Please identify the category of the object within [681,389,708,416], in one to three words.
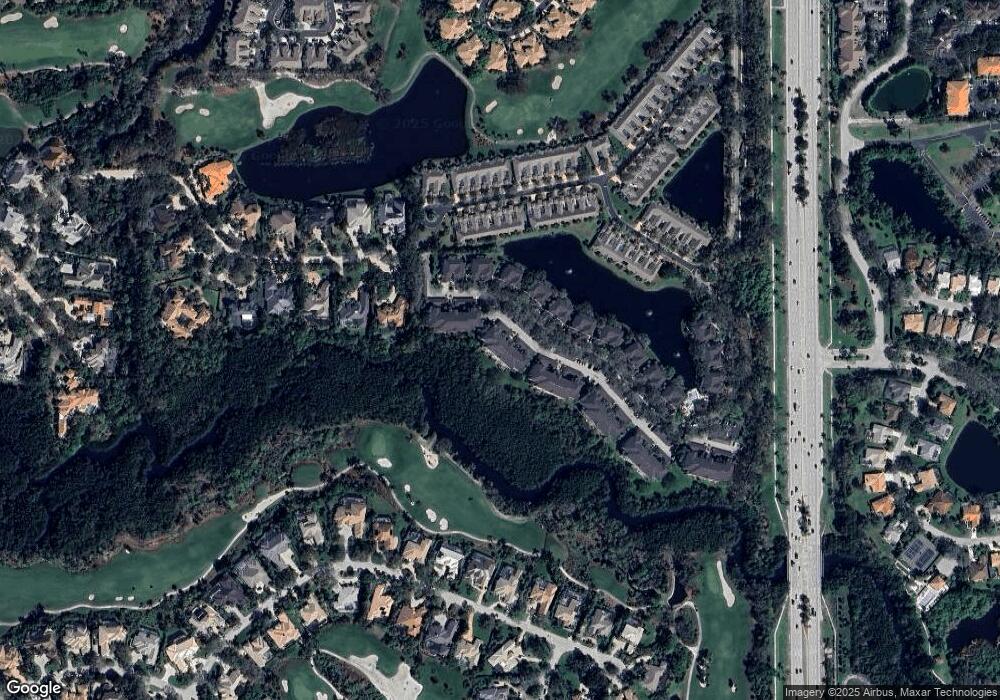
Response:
swimming pool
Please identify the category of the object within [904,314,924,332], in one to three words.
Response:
house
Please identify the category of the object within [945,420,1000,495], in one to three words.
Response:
pond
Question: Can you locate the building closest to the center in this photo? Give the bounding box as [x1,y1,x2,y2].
[478,321,532,371]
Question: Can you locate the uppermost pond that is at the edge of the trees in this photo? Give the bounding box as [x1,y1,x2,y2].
[869,67,931,114]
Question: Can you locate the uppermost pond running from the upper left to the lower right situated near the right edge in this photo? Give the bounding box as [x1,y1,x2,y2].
[870,156,957,240]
